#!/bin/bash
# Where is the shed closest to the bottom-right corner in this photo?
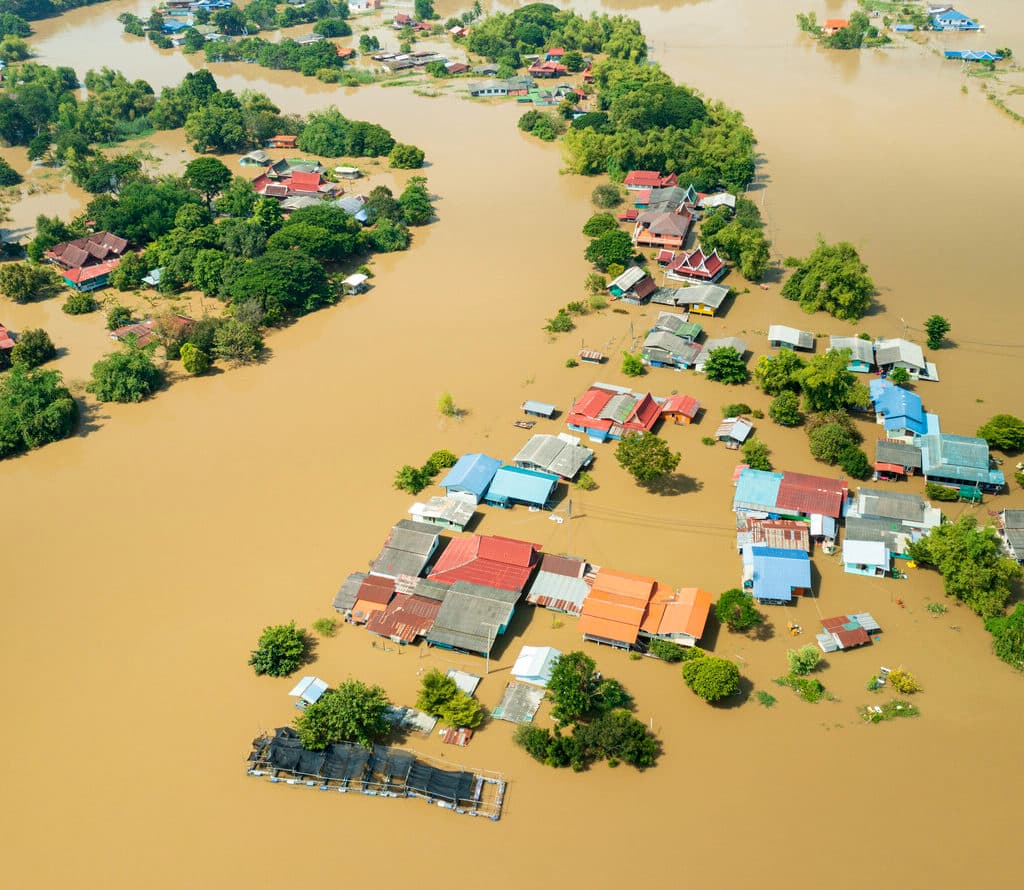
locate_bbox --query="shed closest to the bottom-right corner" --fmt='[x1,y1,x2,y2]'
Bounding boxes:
[816,613,880,654]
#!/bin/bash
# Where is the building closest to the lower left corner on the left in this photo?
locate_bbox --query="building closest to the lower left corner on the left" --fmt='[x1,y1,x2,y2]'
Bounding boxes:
[288,676,329,710]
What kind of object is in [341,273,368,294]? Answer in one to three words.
building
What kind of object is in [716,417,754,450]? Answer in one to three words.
shed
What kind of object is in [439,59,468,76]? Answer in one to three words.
house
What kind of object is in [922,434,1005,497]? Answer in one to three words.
house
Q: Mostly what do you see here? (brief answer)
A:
water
